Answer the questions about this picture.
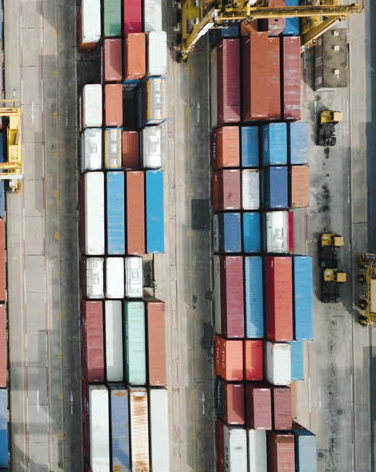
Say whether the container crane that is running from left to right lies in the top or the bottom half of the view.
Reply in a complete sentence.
The top half of the photo is where the container crane that is running from left to right is.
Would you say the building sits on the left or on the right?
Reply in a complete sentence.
The building is on the right side of the image.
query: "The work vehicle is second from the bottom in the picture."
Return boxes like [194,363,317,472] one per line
[318,231,345,267]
